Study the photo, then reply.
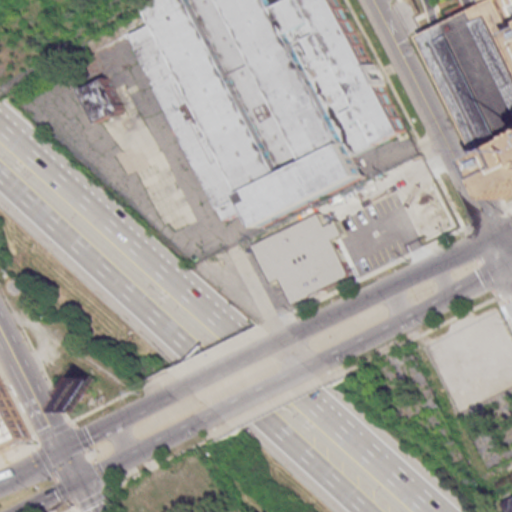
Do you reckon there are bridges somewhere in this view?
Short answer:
Yes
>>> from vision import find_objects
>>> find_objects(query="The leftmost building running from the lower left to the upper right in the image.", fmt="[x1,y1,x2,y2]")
[45,375,90,412]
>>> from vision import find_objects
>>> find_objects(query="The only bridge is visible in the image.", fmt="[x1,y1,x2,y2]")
[146,316,342,438]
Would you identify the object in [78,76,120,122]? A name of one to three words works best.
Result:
house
